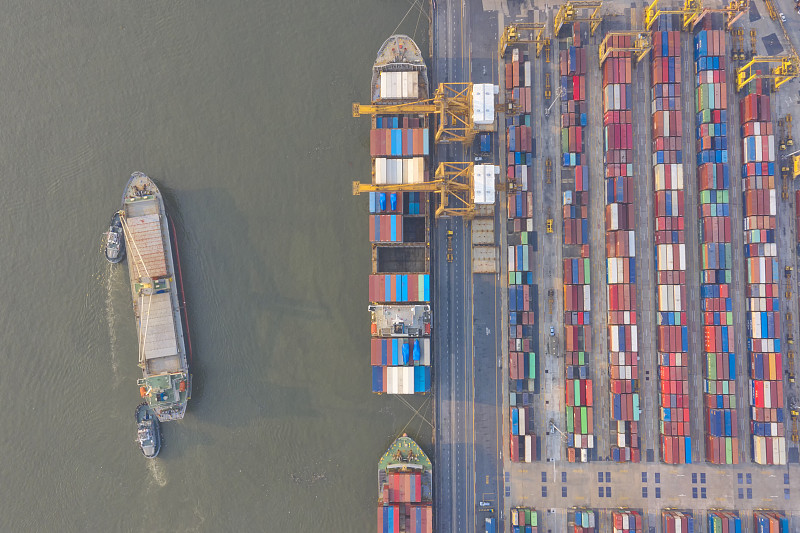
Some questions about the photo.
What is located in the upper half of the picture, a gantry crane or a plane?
gantry crane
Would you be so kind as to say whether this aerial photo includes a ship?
Yes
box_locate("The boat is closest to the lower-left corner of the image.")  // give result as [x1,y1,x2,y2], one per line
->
[133,402,162,459]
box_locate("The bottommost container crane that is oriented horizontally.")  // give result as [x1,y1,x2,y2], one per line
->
[352,158,538,228]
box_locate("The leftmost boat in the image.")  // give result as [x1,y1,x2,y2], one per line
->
[102,212,127,263]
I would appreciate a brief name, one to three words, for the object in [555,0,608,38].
container crane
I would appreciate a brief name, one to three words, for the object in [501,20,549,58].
container crane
